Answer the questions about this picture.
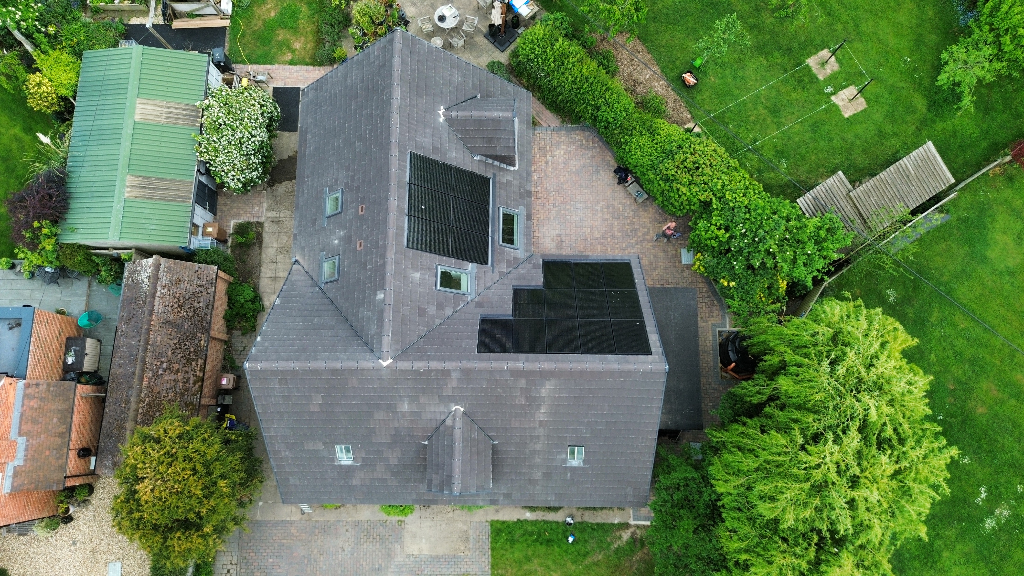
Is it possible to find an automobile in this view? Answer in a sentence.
No, I can see no automobile in this picture.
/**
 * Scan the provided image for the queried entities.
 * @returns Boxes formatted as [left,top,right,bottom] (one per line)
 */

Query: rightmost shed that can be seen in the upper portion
[848,141,955,235]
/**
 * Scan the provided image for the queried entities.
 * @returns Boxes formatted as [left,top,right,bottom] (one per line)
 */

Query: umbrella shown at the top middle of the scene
[486,0,519,53]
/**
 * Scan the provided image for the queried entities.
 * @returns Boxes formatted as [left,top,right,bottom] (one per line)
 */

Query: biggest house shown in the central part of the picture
[240,26,673,507]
